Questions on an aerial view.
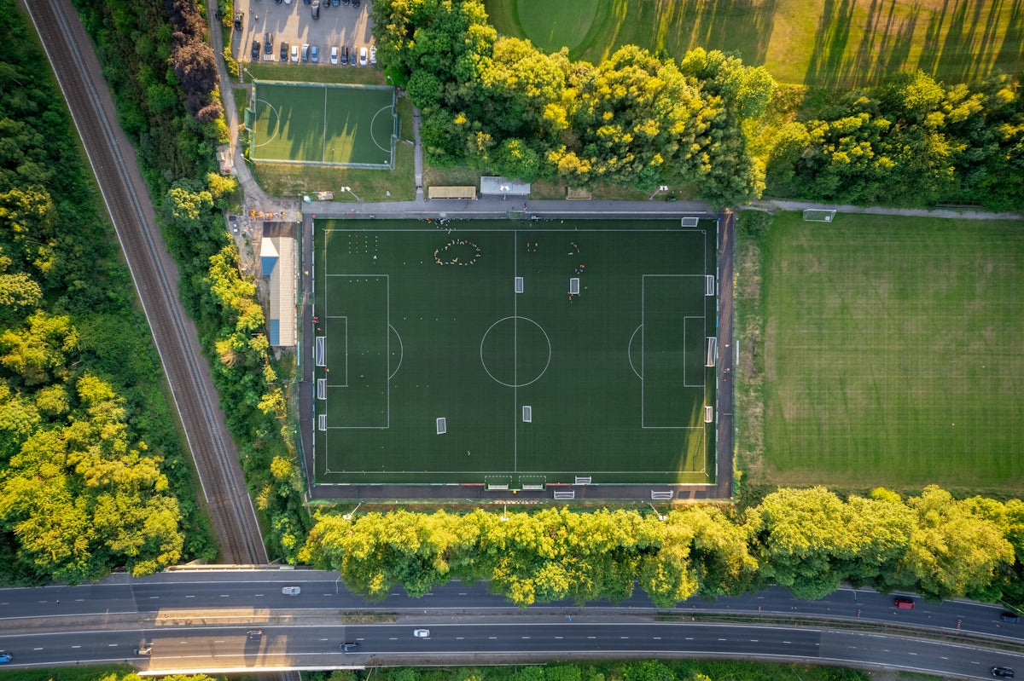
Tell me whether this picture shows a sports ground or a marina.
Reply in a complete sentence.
This image shows a sports ground.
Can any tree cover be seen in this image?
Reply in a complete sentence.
Yes, tree cover can be seen from above here.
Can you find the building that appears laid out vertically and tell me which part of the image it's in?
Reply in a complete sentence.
The building that appears laid out vertically is in the left part of the image.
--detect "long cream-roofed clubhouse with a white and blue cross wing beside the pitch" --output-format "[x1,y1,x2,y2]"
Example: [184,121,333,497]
[258,237,298,346]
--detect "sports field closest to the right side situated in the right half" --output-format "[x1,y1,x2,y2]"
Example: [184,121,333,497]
[762,210,1024,491]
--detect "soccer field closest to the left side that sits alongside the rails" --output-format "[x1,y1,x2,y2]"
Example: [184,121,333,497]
[314,212,717,492]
